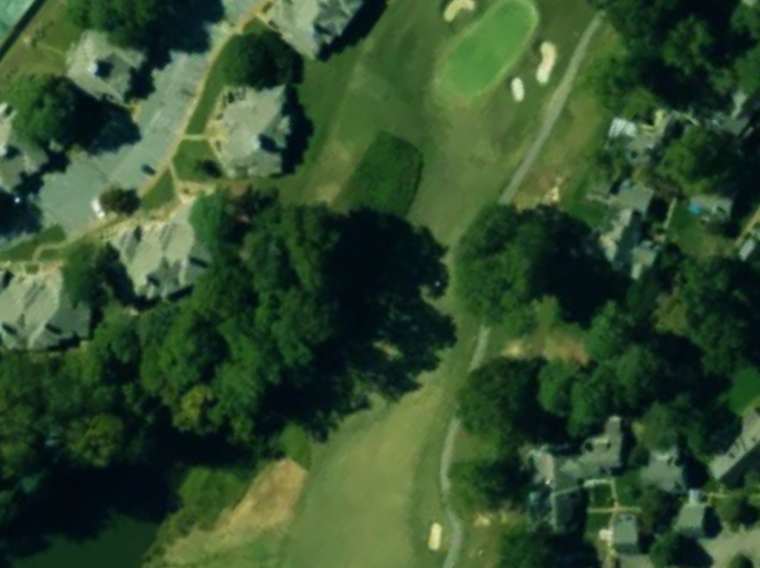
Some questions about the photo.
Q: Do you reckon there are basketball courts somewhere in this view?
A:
No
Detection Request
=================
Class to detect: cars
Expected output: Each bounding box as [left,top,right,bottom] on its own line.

[140,163,157,176]
[92,199,107,216]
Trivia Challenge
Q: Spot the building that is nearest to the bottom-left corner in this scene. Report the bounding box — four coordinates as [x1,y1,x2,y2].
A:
[0,262,99,356]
